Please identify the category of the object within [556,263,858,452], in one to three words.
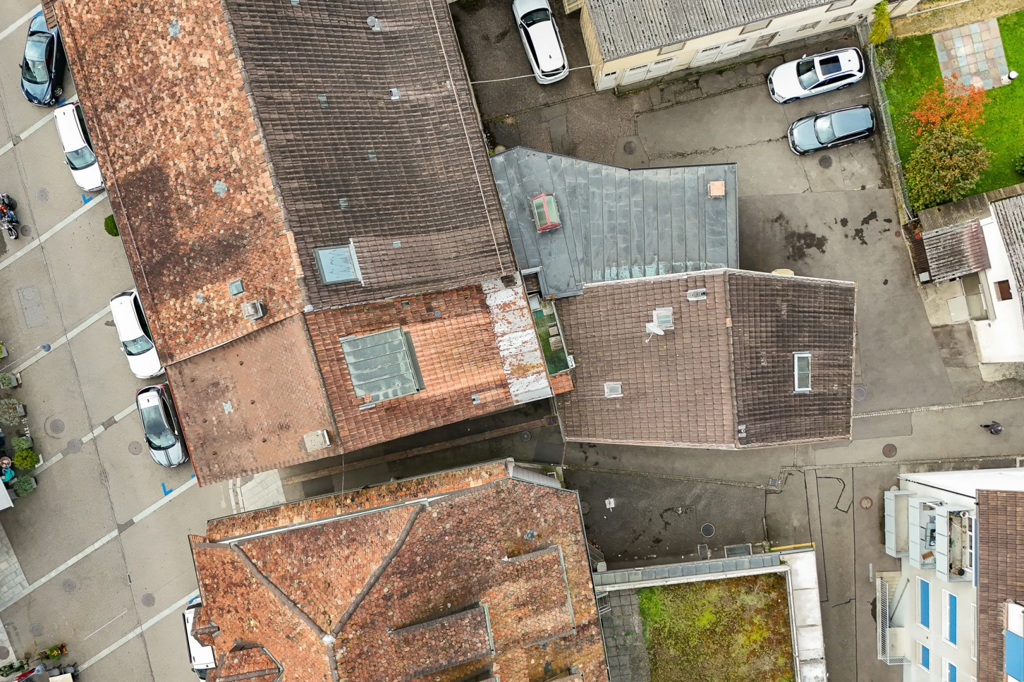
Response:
house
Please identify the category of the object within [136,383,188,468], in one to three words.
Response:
car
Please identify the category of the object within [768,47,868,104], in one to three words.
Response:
car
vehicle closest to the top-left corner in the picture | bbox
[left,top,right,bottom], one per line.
[16,14,64,105]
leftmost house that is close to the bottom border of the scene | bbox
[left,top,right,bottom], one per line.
[186,452,618,682]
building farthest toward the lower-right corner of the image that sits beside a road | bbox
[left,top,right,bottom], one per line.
[883,469,1024,682]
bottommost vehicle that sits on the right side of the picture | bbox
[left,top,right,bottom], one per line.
[788,105,877,155]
